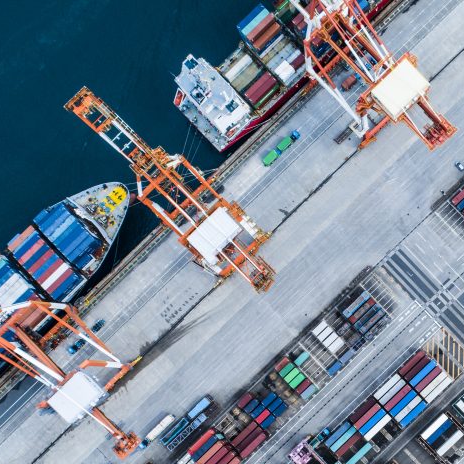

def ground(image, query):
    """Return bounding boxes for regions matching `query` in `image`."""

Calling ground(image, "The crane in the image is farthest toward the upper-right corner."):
[292,0,460,156]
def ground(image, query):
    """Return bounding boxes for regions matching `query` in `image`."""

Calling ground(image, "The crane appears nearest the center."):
[70,87,276,299]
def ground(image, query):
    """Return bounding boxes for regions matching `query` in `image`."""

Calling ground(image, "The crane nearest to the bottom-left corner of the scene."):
[0,295,144,455]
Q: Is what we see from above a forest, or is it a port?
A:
port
